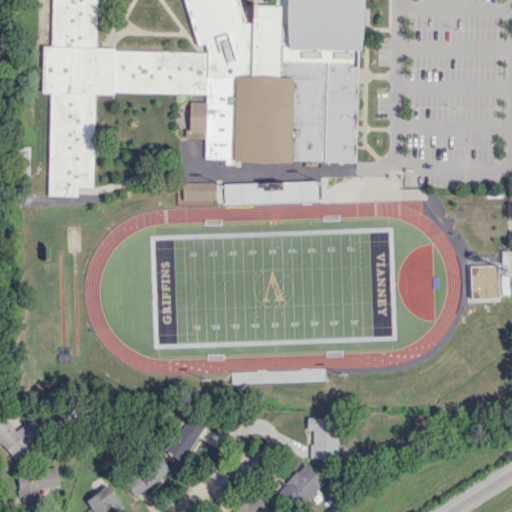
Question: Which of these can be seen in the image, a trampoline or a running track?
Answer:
running track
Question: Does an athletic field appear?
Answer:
Yes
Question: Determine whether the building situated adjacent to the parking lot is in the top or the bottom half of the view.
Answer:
top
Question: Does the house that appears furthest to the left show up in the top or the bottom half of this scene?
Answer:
bottom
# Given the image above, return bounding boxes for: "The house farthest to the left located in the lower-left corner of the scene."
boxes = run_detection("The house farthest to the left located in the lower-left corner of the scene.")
[0,418,28,461]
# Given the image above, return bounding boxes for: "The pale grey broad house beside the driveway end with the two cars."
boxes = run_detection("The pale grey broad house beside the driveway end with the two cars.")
[310,418,339,460]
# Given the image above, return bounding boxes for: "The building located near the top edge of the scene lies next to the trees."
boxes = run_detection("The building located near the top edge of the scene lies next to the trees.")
[42,0,366,198]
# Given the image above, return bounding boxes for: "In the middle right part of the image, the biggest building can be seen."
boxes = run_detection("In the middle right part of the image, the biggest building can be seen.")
[472,265,501,299]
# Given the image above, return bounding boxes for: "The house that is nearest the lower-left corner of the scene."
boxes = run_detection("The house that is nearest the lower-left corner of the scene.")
[18,467,61,500]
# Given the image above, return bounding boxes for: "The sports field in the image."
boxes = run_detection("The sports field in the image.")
[102,218,446,360]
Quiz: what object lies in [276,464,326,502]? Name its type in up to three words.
house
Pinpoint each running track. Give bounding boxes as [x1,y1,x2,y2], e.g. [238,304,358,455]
[86,201,462,375]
